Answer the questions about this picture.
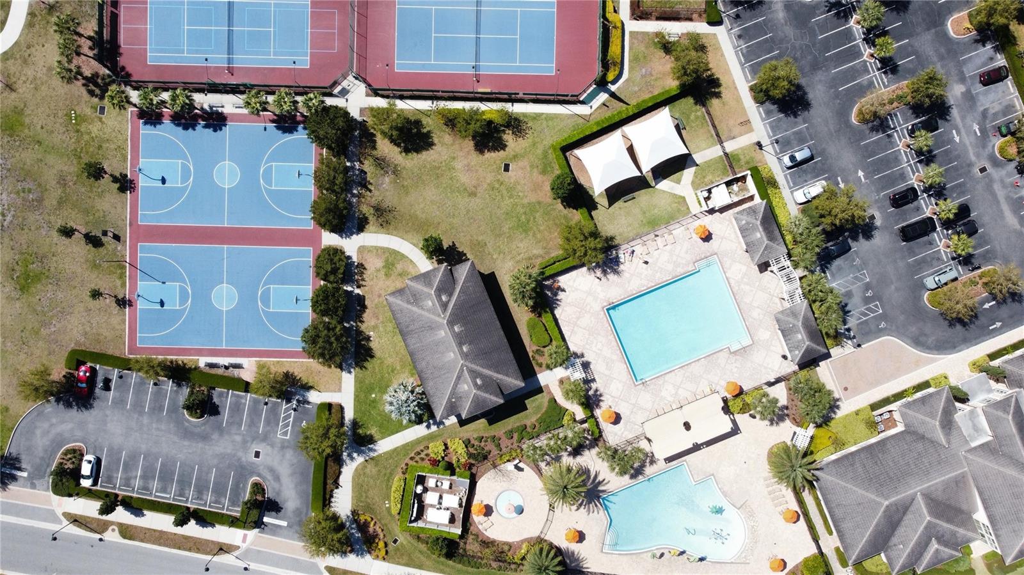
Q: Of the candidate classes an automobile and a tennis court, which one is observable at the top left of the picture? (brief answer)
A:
tennis court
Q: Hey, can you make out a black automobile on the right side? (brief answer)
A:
Yes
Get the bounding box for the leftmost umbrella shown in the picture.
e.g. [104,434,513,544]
[470,501,485,517]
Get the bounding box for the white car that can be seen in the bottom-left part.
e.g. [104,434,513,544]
[82,454,100,486]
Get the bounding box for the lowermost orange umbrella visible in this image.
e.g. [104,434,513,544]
[769,555,785,572]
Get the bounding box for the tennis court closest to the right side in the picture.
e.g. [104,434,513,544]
[358,0,600,98]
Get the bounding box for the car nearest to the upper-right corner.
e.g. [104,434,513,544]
[975,65,1010,87]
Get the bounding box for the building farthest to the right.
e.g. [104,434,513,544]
[808,348,1024,575]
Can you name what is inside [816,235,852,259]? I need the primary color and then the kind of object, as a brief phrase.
black car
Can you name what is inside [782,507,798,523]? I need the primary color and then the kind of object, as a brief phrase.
orange umbrella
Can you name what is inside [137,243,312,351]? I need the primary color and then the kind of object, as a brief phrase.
blue basketball court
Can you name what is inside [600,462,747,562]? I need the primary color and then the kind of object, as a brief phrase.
white swimming pool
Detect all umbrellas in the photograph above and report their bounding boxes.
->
[693,222,709,238]
[723,379,739,395]
[600,409,615,424]
[782,507,798,523]
[470,501,485,517]
[769,555,785,572]
[564,526,580,543]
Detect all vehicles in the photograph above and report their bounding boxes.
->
[903,115,939,138]
[921,264,960,288]
[934,203,974,227]
[885,187,918,208]
[969,265,983,272]
[74,363,94,396]
[975,65,1010,87]
[816,235,852,259]
[792,179,828,203]
[82,454,100,486]
[896,216,935,241]
[779,146,814,169]
[100,375,111,391]
[943,218,978,240]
